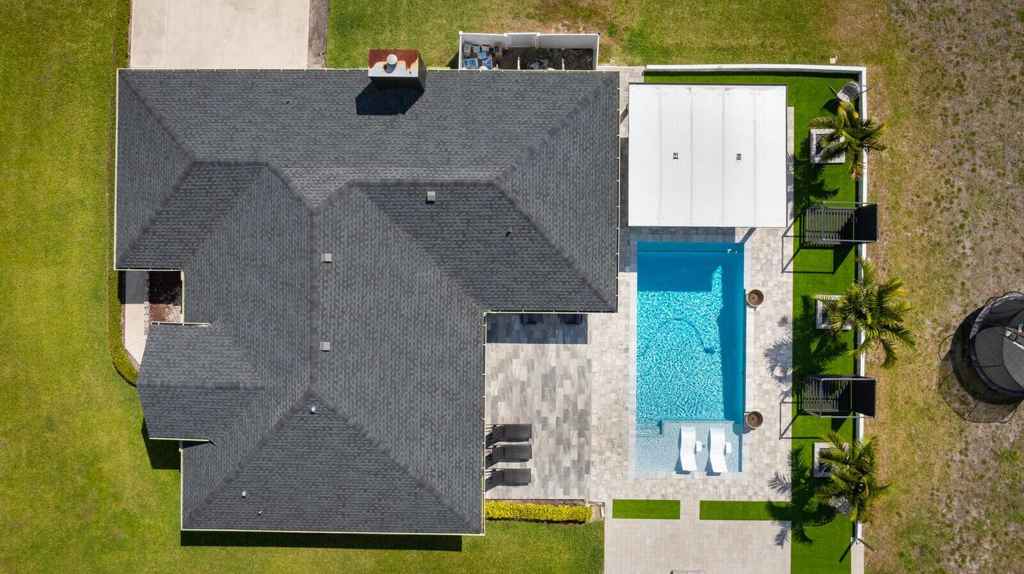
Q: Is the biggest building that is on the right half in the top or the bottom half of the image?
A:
top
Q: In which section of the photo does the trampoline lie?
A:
right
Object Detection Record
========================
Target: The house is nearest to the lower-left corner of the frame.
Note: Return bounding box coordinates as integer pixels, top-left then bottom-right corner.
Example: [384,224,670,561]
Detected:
[116,48,620,535]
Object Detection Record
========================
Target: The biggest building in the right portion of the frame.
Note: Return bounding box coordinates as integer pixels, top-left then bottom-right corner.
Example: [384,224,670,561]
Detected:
[624,83,787,227]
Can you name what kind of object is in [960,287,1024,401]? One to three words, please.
trampoline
